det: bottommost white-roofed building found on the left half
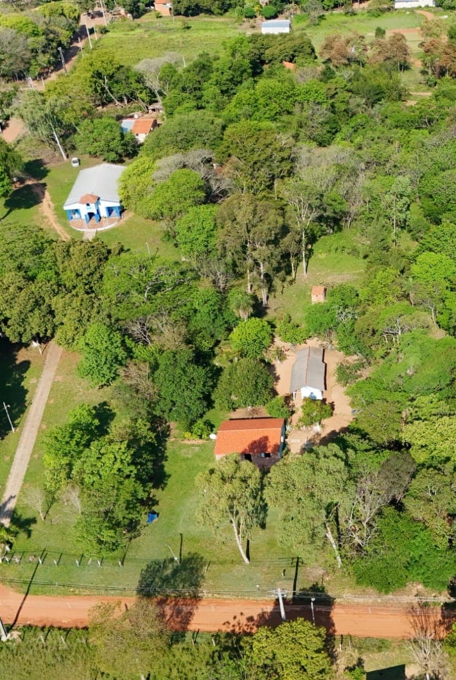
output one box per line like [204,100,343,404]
[62,163,128,227]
